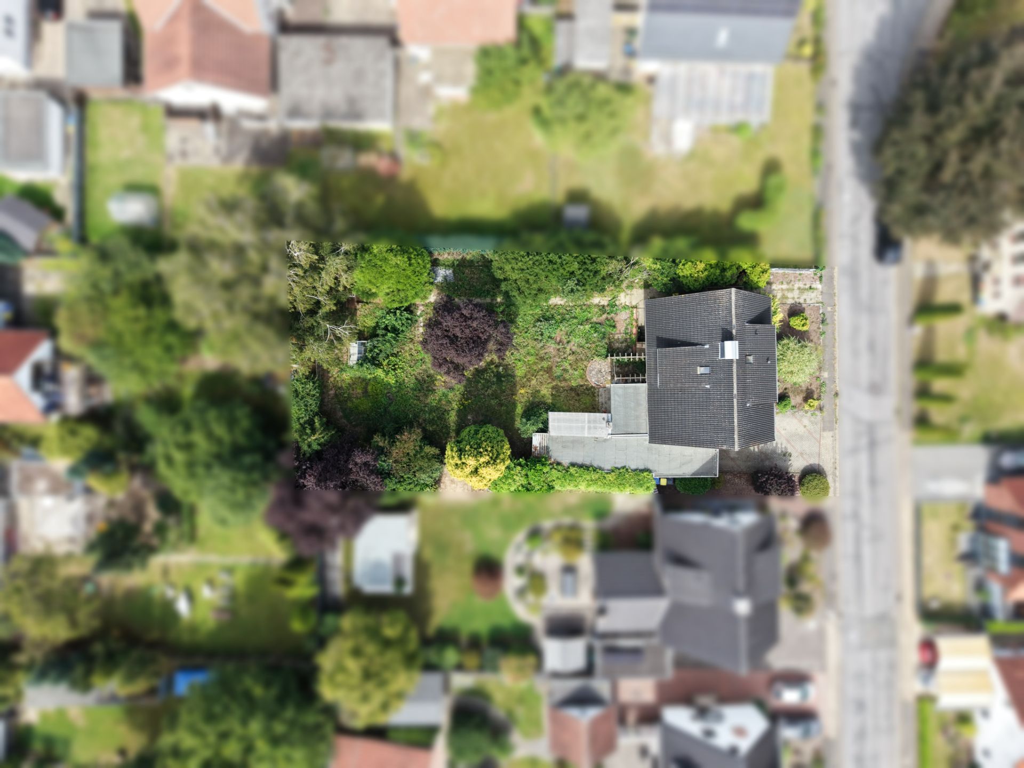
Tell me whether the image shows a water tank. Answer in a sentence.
No, there's no water tank here.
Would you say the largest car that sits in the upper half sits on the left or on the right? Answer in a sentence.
You can find the largest car that sits in the upper half on the right side of the picture.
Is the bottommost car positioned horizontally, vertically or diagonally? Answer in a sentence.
Seen from above, the bottommost car lies horizontally.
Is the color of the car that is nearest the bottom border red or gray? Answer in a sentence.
The car that is nearest the bottom border is gray.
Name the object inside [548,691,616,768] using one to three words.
building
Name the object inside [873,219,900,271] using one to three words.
car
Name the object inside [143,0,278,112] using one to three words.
house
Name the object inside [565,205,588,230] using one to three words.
shed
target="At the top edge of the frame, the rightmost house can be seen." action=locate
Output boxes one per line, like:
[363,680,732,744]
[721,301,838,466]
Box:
[635,0,791,79]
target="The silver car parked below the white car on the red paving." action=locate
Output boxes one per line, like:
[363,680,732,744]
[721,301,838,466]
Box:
[770,712,822,739]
